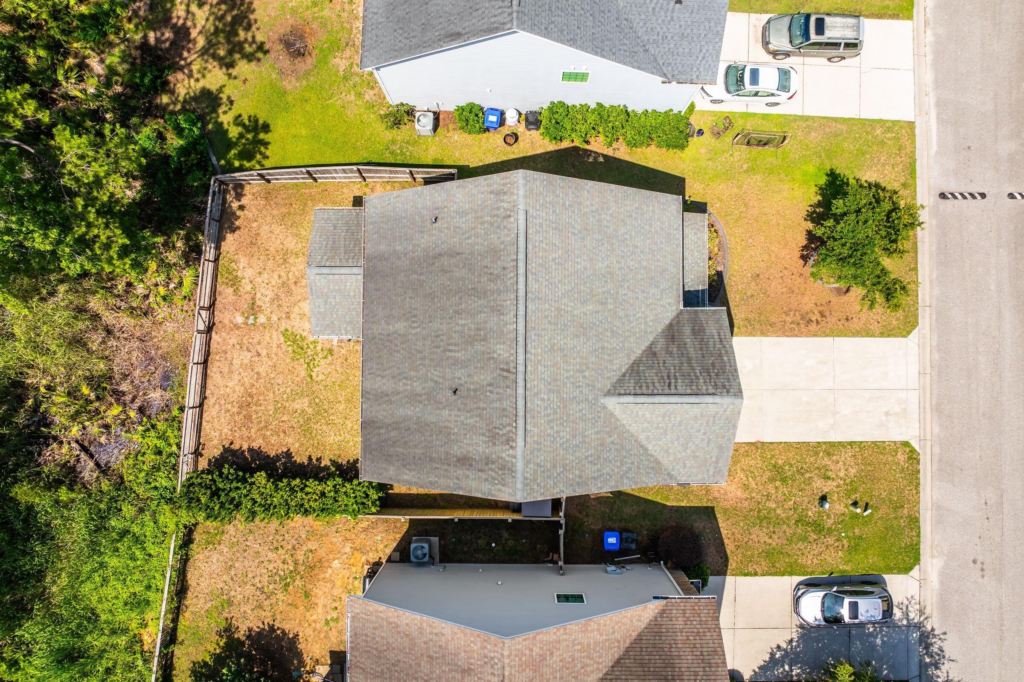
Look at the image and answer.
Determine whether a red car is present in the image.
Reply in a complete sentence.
No, the frame has no red car in it.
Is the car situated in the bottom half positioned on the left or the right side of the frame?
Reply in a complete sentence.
The car situated in the bottom half sits on the right side.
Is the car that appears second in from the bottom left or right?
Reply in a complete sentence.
It is on the right.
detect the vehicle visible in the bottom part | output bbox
[793,580,899,637]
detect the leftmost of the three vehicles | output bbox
[699,52,799,106]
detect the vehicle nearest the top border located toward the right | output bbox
[758,0,868,62]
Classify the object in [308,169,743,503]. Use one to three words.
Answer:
house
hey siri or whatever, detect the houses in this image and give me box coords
[308,169,743,503]
[344,555,730,682]
[358,0,732,117]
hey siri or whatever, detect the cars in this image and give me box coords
[758,0,868,62]
[793,580,899,637]
[699,52,799,106]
